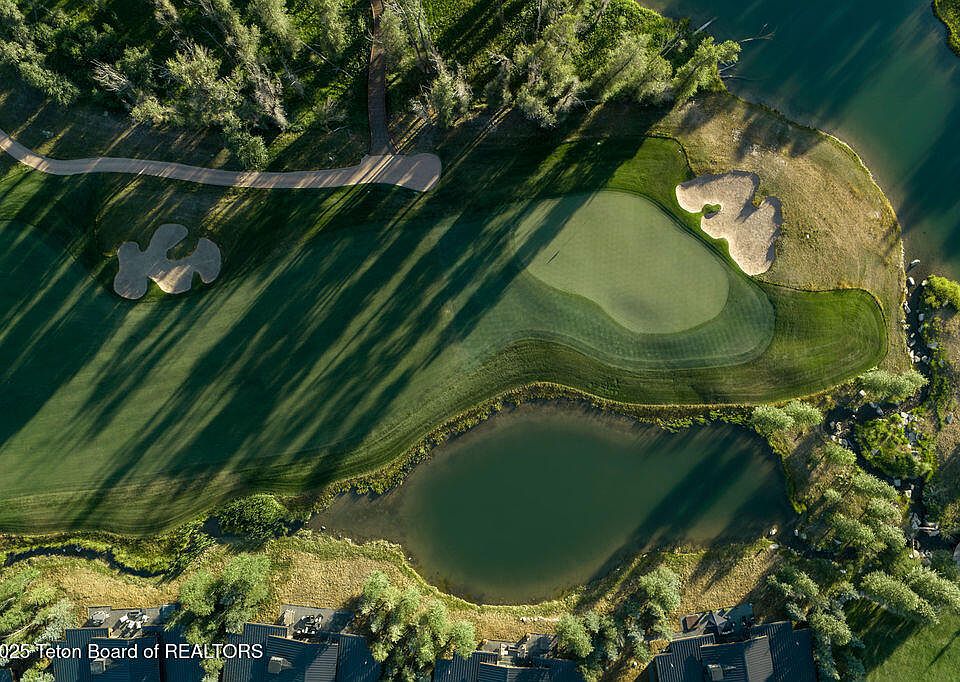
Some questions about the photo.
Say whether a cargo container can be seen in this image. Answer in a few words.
No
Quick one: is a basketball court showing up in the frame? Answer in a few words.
No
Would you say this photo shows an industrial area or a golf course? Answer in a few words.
golf course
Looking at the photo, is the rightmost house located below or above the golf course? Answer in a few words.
below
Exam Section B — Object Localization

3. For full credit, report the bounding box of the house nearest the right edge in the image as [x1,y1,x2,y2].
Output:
[654,603,815,682]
